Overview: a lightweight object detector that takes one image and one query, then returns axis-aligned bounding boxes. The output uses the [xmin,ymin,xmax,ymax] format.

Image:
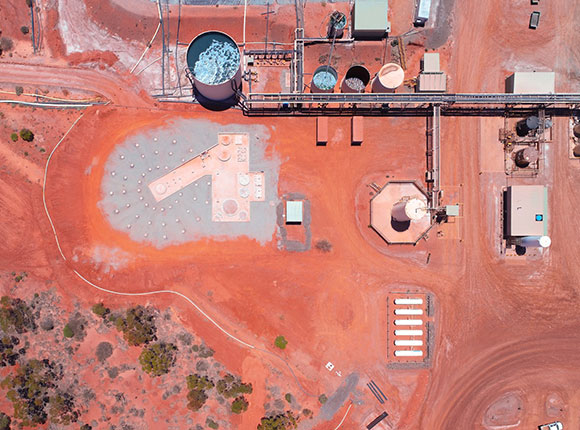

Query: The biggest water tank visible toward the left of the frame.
[186,32,245,101]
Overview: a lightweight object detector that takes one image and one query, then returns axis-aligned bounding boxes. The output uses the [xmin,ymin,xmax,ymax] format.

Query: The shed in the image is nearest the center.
[287,201,304,222]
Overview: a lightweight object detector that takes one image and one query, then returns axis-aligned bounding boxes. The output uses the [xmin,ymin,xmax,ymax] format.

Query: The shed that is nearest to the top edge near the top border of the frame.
[353,0,388,36]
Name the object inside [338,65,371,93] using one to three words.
storage tank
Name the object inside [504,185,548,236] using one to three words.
building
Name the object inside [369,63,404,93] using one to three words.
storage tank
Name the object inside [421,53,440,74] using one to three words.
building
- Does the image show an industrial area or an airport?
industrial area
